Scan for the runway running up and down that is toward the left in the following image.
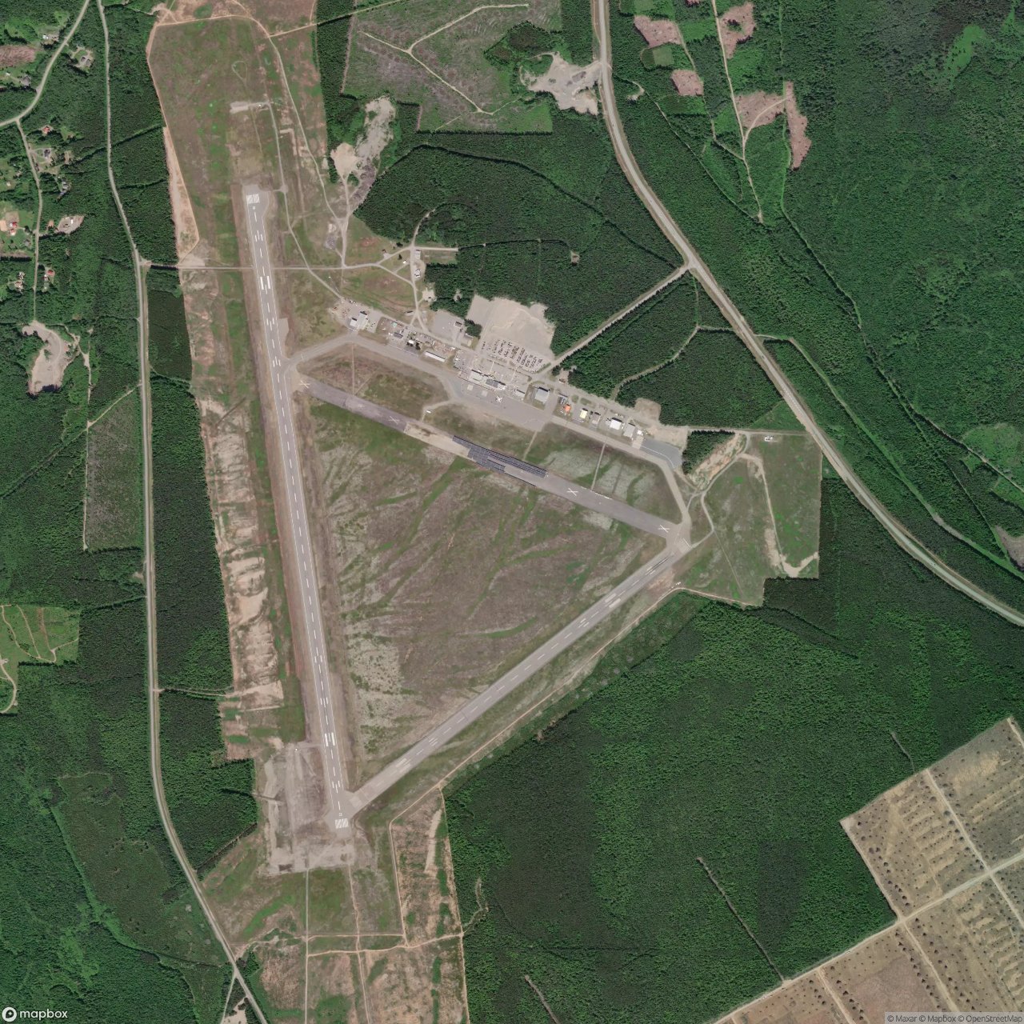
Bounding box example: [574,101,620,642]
[243,185,358,838]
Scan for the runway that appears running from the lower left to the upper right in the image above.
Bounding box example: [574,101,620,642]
[352,538,690,810]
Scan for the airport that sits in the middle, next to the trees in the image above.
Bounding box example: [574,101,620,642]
[243,185,693,838]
